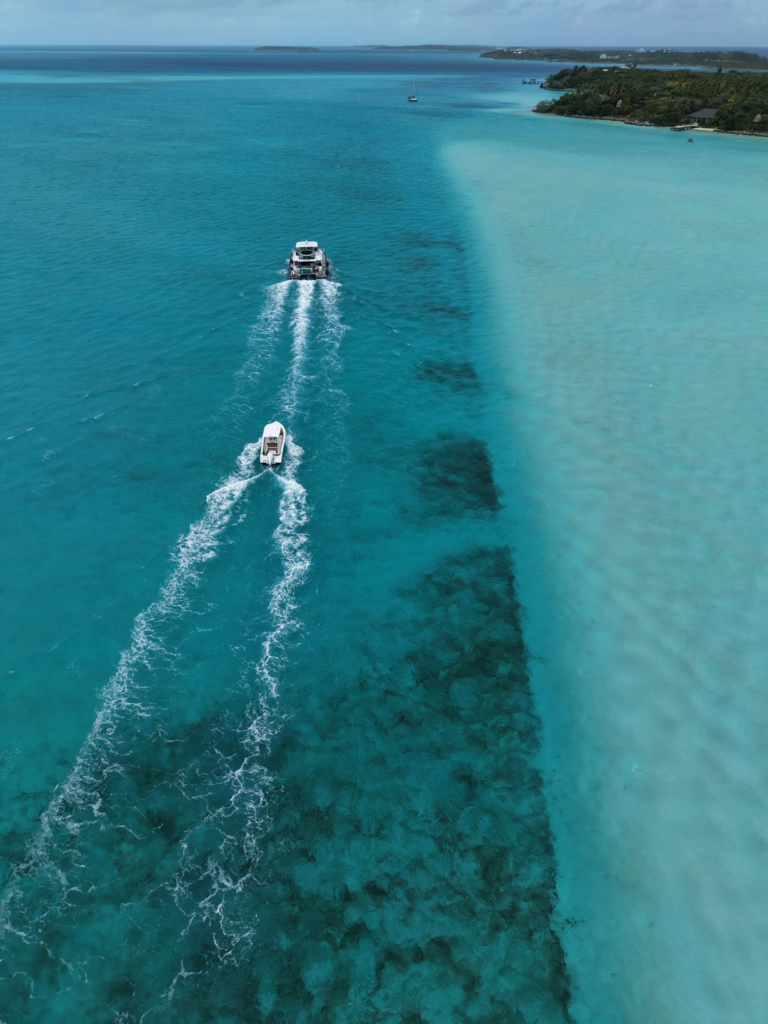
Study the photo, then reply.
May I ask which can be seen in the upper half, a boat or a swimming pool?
boat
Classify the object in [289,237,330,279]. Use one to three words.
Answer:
boat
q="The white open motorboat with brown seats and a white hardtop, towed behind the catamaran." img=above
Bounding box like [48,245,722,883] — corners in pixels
[261,423,287,470]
